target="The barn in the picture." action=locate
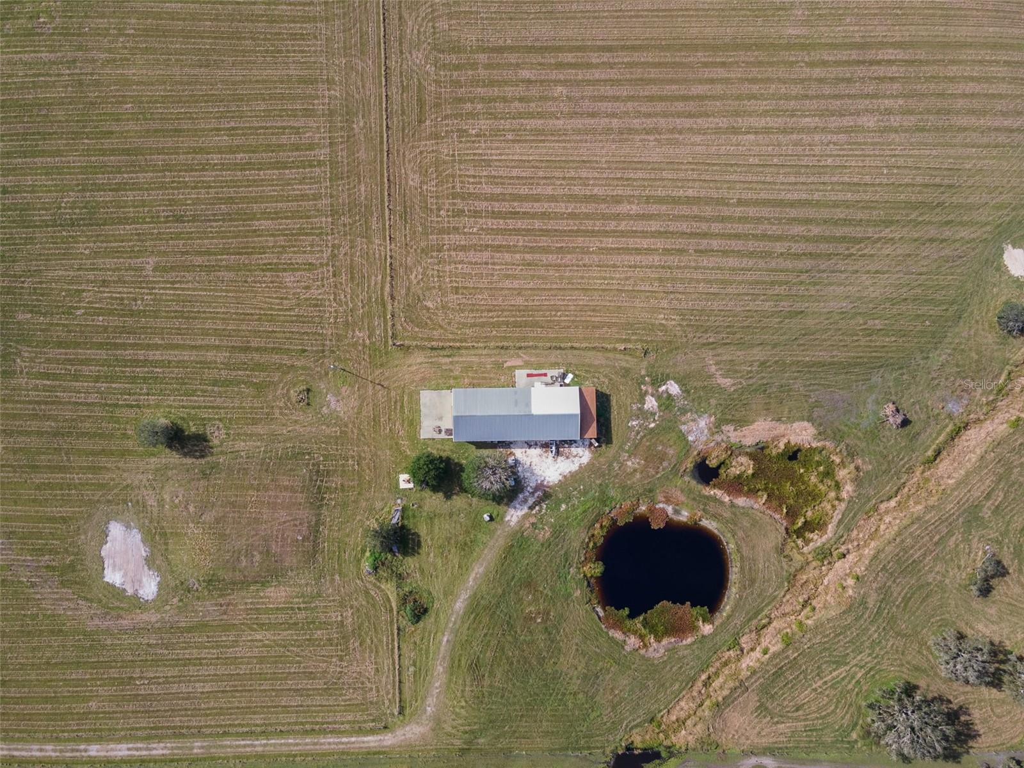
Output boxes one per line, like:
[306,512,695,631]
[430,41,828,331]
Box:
[451,382,597,442]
